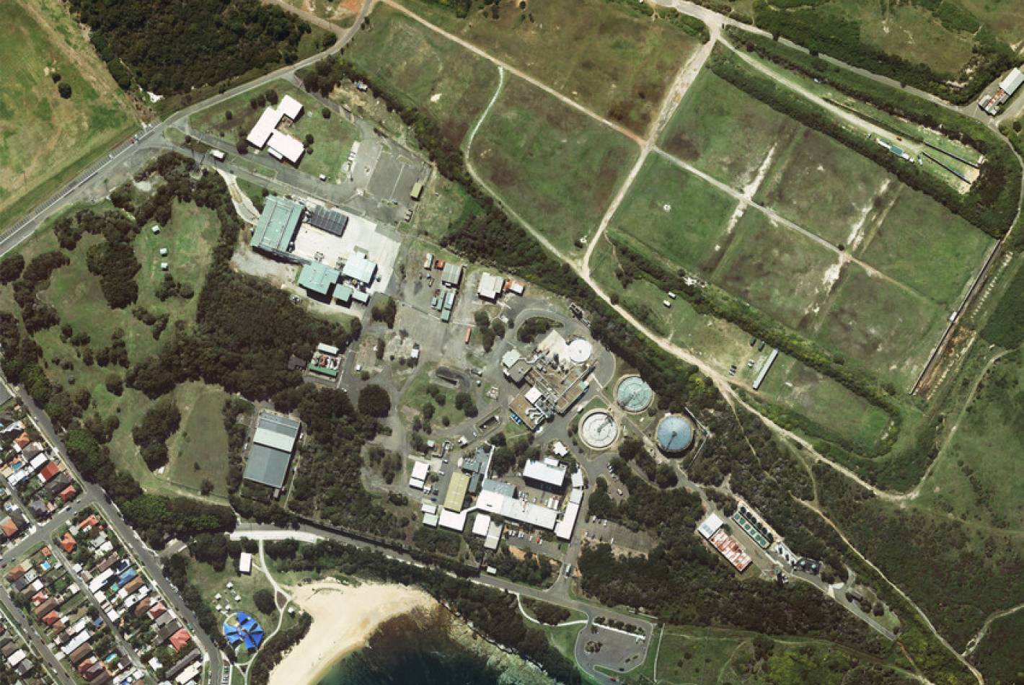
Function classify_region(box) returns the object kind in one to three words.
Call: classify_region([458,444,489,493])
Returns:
building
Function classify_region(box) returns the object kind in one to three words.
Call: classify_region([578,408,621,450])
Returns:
storage tank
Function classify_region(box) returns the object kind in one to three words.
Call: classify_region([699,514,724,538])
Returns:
house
